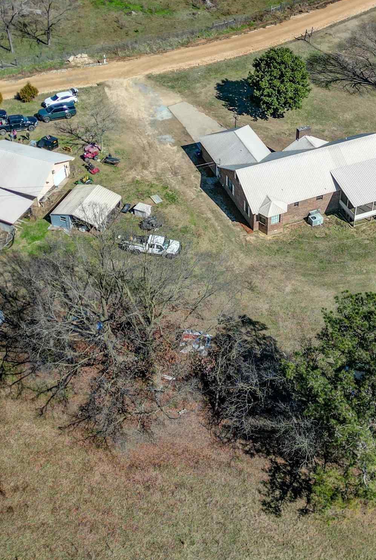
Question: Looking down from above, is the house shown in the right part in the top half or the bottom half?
top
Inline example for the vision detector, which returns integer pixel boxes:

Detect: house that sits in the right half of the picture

[199,120,376,233]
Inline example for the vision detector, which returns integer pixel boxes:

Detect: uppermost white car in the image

[41,85,83,107]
